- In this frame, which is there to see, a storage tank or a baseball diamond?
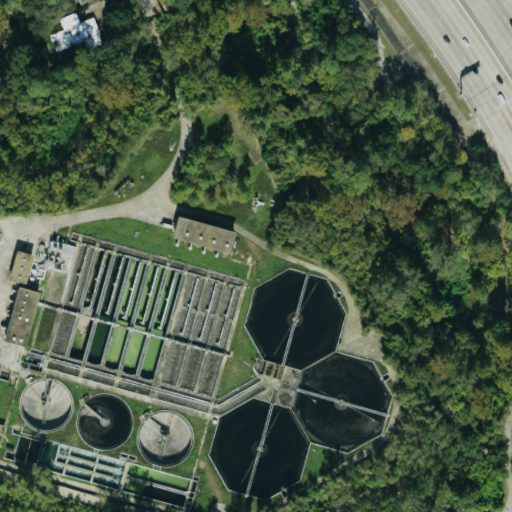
storage tank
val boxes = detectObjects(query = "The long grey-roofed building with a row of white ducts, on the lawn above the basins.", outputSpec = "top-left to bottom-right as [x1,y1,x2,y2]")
[174,217,238,258]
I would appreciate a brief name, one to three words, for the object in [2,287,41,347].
building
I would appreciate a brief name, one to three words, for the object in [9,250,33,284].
building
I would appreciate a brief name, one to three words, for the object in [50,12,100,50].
house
